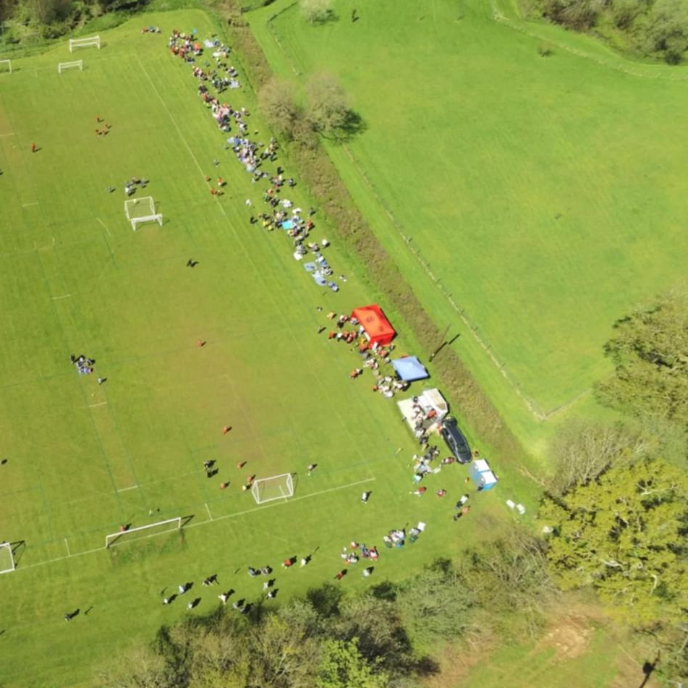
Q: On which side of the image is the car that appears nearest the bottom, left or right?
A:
right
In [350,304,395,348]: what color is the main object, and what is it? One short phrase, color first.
red gazebo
